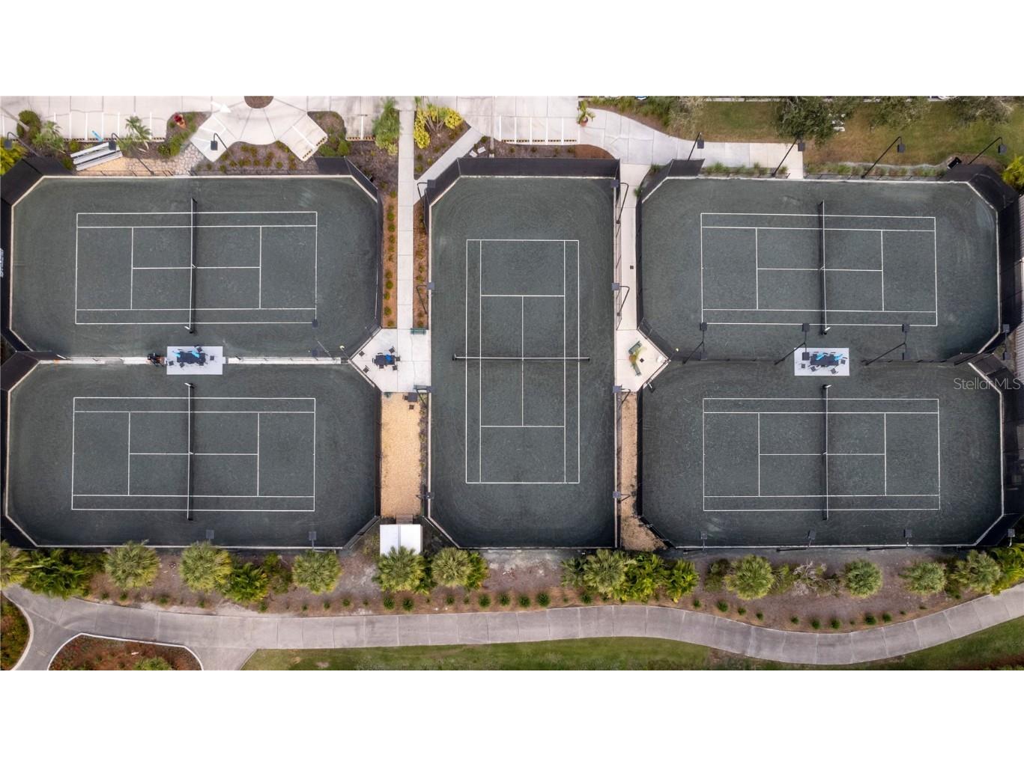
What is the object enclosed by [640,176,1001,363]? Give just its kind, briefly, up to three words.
tennis court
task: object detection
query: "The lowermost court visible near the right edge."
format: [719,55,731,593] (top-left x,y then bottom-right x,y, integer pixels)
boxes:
[643,362,1006,549]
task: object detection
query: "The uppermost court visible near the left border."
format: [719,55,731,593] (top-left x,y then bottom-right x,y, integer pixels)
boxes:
[9,174,380,359]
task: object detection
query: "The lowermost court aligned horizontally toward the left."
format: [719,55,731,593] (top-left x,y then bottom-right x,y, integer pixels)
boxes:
[4,361,378,550]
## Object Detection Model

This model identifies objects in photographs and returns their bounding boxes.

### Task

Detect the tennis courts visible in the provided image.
[640,176,1001,363]
[427,175,618,550]
[643,362,1006,549]
[4,361,378,550]
[9,174,380,359]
